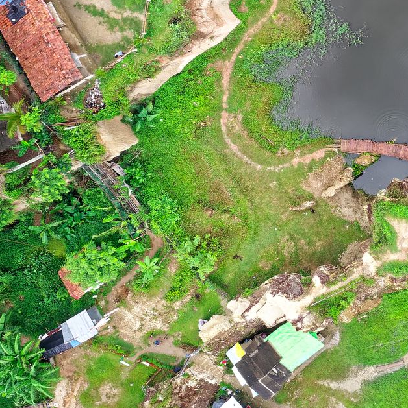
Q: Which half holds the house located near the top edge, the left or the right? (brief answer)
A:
left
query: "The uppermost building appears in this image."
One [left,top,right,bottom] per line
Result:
[0,0,85,101]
